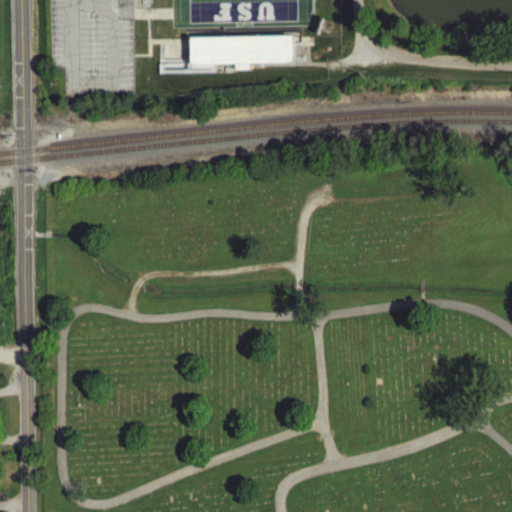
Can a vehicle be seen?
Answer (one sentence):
No, this view has no vehicle in it.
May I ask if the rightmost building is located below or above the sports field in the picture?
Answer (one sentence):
The rightmost building is below the sports field.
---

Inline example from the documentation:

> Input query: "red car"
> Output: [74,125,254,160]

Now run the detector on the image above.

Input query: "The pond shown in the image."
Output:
[391,0,512,47]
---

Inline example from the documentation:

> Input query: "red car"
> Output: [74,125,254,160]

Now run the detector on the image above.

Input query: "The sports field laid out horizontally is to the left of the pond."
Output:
[174,0,314,28]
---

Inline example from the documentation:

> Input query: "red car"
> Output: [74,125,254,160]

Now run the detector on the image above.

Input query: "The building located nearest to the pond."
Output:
[188,34,294,71]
